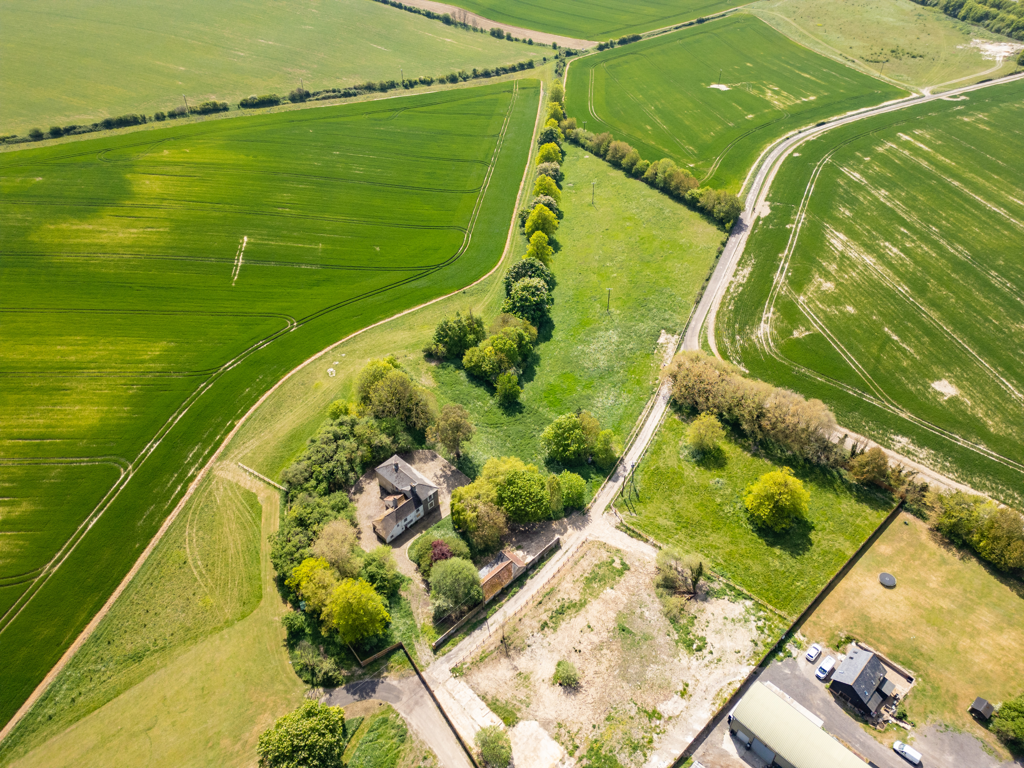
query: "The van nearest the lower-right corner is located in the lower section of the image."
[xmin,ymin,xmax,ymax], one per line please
[890,739,926,768]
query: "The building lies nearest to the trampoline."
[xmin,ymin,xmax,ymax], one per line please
[827,647,897,717]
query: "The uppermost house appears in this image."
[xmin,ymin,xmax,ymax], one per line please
[370,453,444,543]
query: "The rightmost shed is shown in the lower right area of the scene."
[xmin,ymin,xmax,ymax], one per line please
[967,695,995,722]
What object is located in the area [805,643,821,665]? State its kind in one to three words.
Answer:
car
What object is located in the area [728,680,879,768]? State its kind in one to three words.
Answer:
building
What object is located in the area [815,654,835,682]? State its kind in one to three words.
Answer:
vehicle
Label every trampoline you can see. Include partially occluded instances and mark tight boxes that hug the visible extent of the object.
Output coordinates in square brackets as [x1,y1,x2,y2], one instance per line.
[877,573,897,590]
